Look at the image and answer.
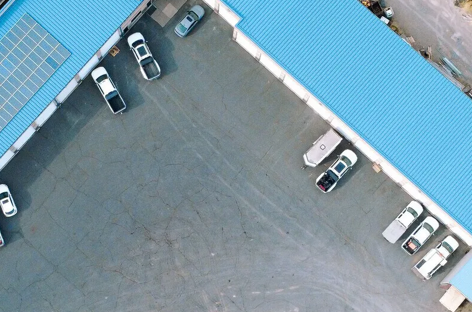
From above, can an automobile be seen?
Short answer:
Yes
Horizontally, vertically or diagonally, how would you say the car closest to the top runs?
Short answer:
diagonally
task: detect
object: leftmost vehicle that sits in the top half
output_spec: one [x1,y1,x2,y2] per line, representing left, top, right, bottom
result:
[92,67,125,117]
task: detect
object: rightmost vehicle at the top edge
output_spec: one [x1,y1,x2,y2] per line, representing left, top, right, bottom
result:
[174,5,205,39]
